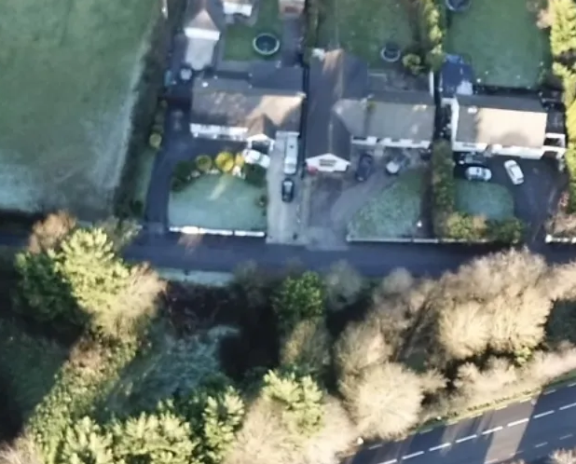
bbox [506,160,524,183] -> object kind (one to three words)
car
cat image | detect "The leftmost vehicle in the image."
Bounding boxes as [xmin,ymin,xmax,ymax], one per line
[243,149,269,167]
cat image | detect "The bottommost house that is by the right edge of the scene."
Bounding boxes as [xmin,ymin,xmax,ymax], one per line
[449,92,566,159]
